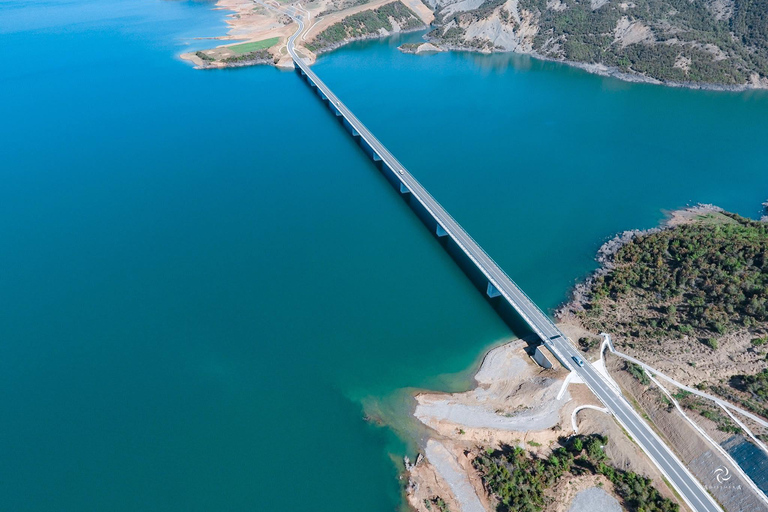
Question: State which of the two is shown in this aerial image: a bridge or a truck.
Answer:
bridge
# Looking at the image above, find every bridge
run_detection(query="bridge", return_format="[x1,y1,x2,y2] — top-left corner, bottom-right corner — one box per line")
[292,57,596,377]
